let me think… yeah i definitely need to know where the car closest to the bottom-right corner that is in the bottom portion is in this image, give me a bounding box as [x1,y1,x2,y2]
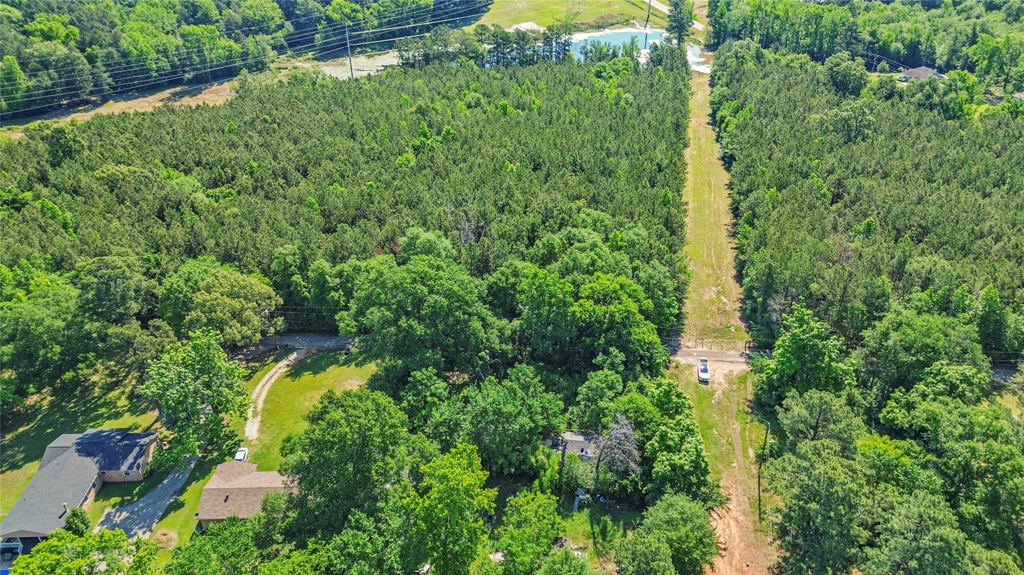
[697,353,711,379]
